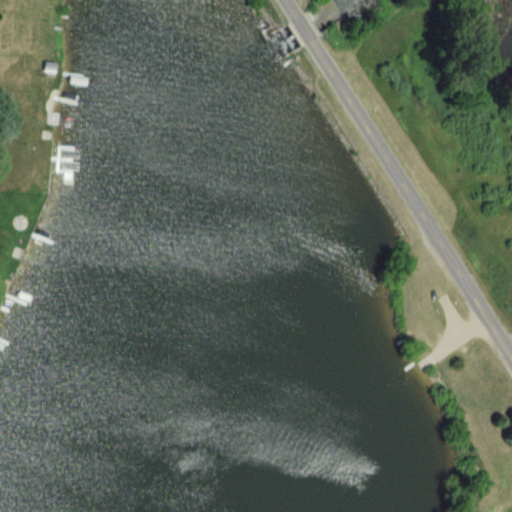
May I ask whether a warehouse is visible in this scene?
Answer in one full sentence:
No, there appears to be no warehouse in this shot.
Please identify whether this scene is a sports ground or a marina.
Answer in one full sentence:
It's a marina.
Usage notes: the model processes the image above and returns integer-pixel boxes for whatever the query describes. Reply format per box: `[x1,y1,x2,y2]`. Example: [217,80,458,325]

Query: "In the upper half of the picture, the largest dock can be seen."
[50,144,76,175]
